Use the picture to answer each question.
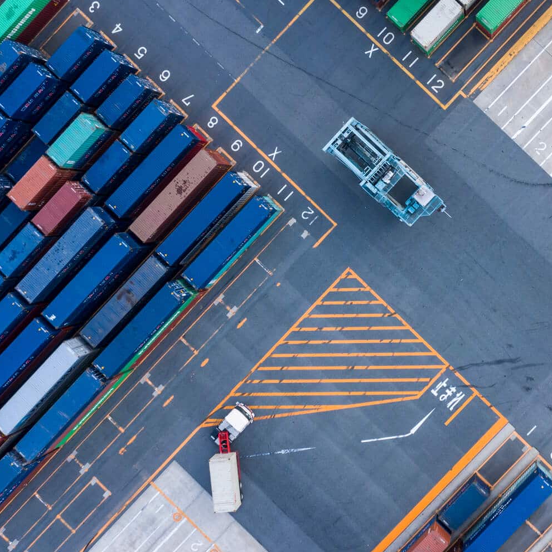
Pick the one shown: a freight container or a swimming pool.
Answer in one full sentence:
The image shows a freight container.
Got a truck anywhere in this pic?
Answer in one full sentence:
Yes, there's a truck here.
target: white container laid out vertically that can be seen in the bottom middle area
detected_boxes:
[209,453,241,514]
